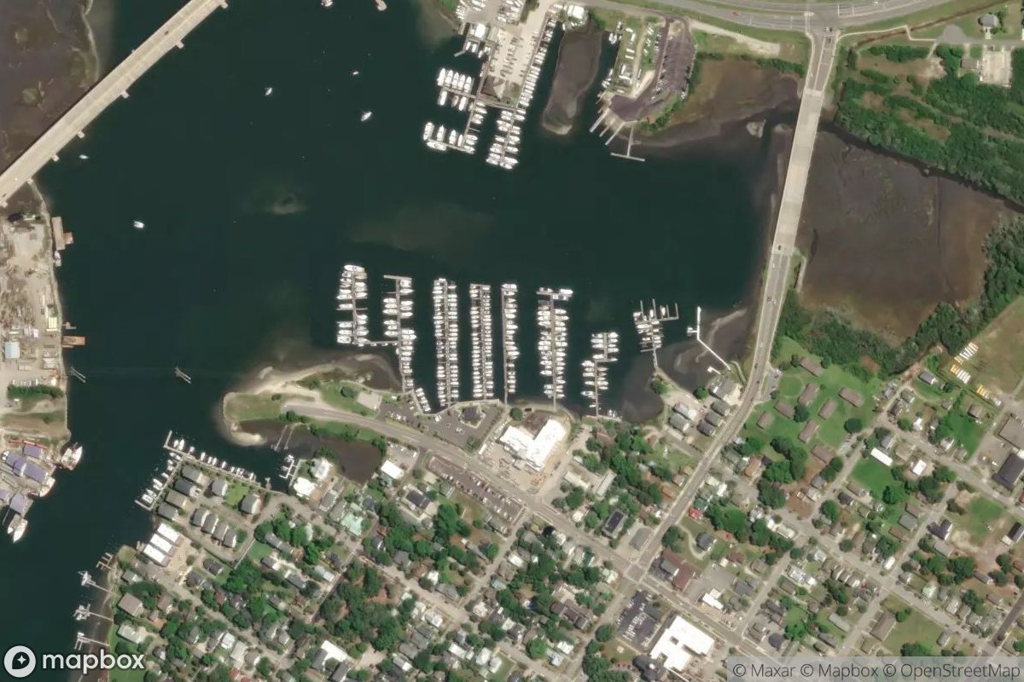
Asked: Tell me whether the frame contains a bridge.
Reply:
Yes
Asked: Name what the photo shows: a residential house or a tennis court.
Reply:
residential house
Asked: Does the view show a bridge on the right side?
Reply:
Yes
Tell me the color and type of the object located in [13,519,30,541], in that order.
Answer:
white vessel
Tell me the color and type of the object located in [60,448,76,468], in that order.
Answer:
white vessel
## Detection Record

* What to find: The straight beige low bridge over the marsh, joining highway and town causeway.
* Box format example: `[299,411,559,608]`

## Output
[772,86,824,255]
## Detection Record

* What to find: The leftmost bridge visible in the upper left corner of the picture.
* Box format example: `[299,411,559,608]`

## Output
[0,0,231,207]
